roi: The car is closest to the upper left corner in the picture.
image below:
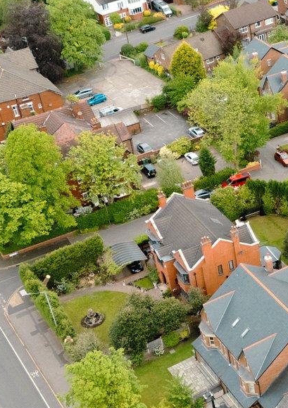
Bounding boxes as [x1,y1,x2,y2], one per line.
[71,86,96,100]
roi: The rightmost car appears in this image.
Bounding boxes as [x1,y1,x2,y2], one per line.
[274,150,288,167]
